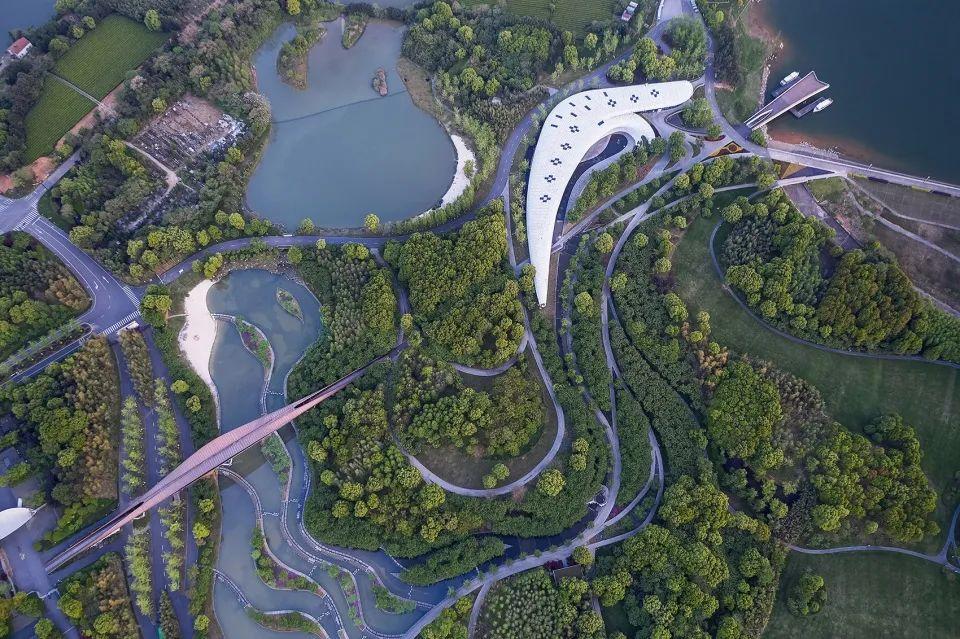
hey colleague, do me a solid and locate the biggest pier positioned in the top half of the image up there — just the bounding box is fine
[742,69,830,129]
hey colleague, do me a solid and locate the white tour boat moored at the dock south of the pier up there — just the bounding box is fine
[813,96,835,112]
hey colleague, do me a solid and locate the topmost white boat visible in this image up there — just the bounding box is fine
[779,70,800,85]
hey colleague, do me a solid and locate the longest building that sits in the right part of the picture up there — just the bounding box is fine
[527,81,694,307]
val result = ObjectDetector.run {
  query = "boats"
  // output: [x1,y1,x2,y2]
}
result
[813,96,835,112]
[779,70,800,85]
